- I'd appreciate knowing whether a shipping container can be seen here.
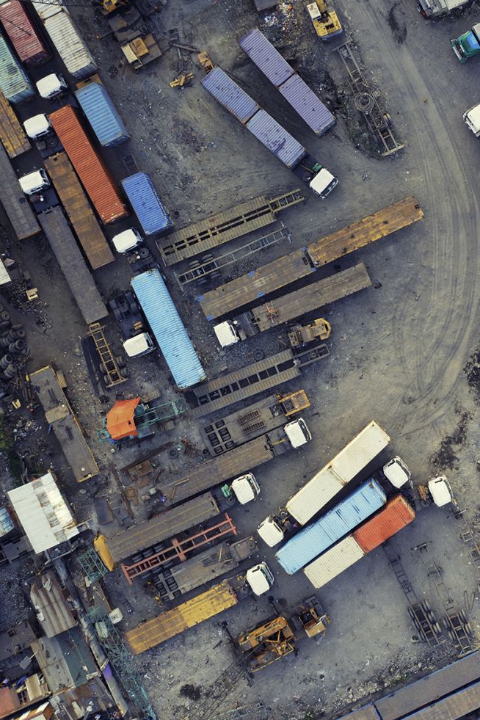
Yes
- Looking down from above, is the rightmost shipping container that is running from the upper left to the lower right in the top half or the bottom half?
top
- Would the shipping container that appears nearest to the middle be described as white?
No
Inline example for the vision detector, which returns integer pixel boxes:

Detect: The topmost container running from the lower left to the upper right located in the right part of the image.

[331,416,391,480]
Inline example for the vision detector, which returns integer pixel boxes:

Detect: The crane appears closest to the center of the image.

[97,397,190,444]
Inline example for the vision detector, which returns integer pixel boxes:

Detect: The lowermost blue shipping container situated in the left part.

[133,268,210,390]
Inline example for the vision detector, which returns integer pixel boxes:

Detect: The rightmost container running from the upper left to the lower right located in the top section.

[280,73,337,139]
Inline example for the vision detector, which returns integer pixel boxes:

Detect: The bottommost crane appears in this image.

[176,594,326,720]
